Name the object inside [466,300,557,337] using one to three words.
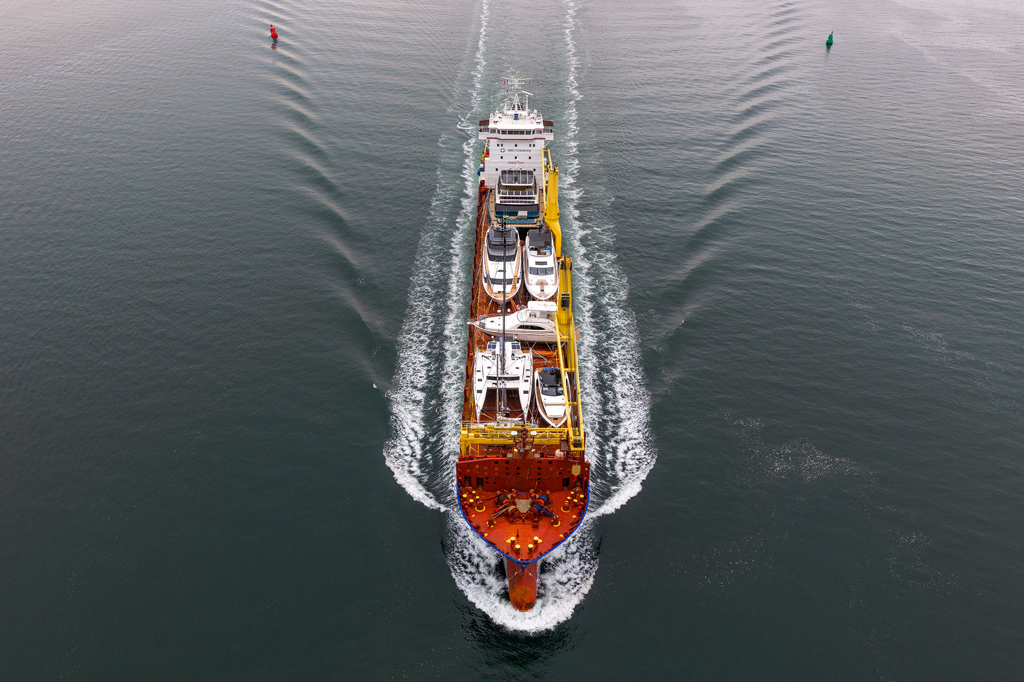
boat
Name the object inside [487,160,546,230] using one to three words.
boat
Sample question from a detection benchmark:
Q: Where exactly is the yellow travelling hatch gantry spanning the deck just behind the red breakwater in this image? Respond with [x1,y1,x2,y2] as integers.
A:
[459,421,583,463]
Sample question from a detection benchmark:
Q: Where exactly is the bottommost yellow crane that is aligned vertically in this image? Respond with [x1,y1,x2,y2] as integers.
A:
[553,258,585,496]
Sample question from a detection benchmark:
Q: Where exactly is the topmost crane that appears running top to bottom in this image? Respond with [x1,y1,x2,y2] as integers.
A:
[542,149,563,261]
